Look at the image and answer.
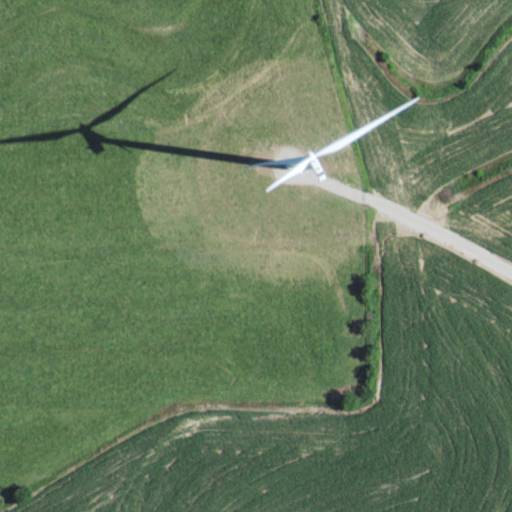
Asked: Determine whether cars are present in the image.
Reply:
No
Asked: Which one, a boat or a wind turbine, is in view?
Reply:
wind turbine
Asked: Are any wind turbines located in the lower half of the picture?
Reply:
No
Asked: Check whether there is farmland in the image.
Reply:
Yes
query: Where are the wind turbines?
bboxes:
[247,97,417,189]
